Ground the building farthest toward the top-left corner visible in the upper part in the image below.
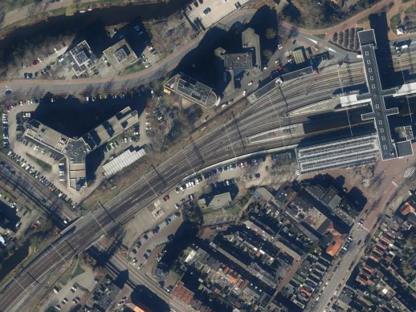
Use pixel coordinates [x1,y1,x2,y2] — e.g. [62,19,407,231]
[70,39,97,76]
